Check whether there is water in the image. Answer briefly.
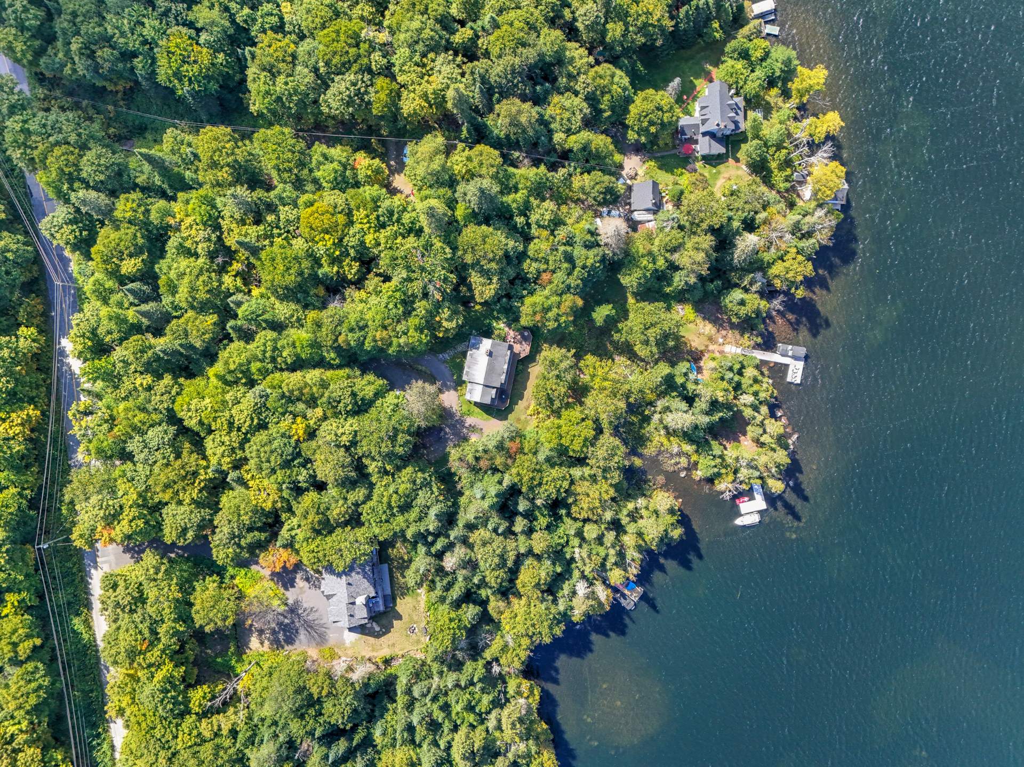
Yes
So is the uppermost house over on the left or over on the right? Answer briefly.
right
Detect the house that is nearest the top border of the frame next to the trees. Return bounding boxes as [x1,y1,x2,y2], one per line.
[676,81,745,159]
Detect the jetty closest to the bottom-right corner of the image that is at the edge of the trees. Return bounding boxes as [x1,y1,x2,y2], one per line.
[739,482,766,514]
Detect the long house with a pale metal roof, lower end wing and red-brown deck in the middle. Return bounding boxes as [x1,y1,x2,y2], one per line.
[463,336,514,404]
